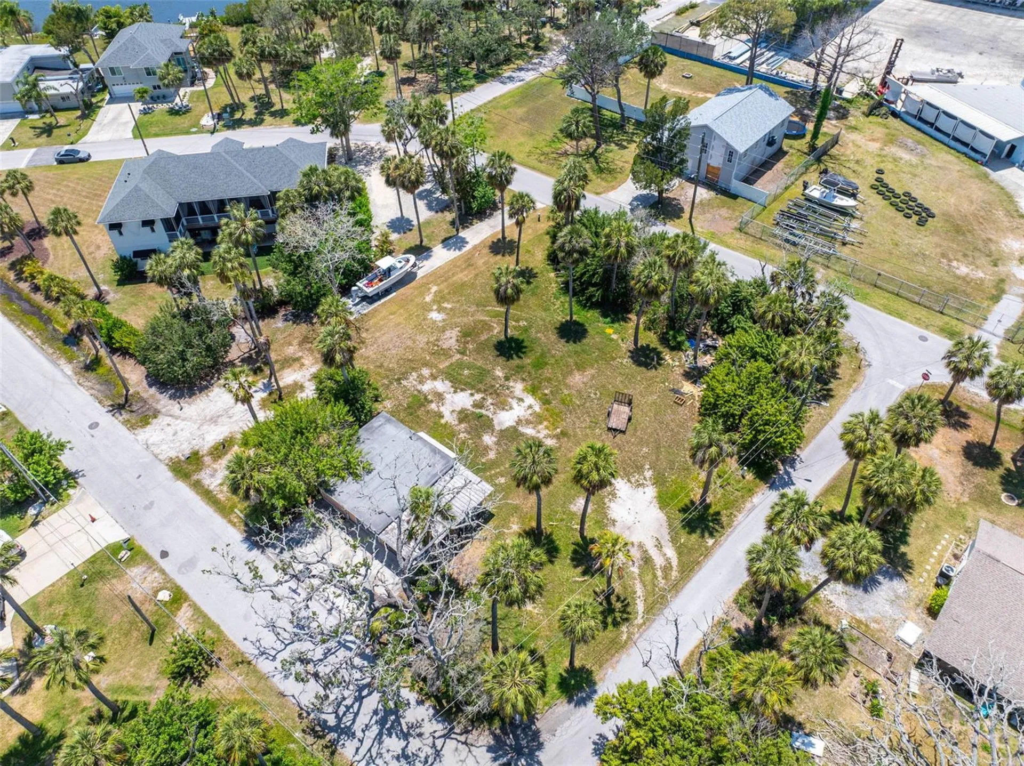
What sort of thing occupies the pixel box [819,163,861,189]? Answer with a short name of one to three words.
boat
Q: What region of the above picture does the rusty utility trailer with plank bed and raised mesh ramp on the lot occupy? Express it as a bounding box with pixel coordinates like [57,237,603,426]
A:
[605,391,634,441]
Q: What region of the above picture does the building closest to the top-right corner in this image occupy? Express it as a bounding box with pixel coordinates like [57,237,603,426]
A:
[886,69,1024,166]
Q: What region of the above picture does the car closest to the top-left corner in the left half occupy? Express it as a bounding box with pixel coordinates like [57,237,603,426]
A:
[49,146,92,162]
